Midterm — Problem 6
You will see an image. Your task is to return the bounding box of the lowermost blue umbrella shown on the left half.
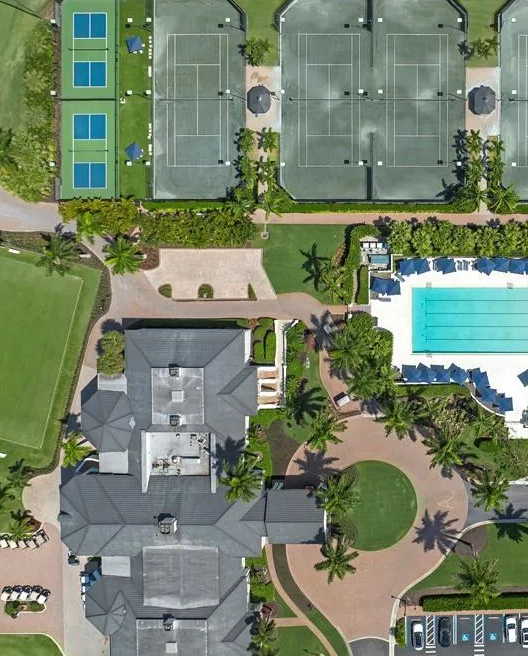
[125,141,146,162]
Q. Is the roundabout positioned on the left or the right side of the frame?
right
